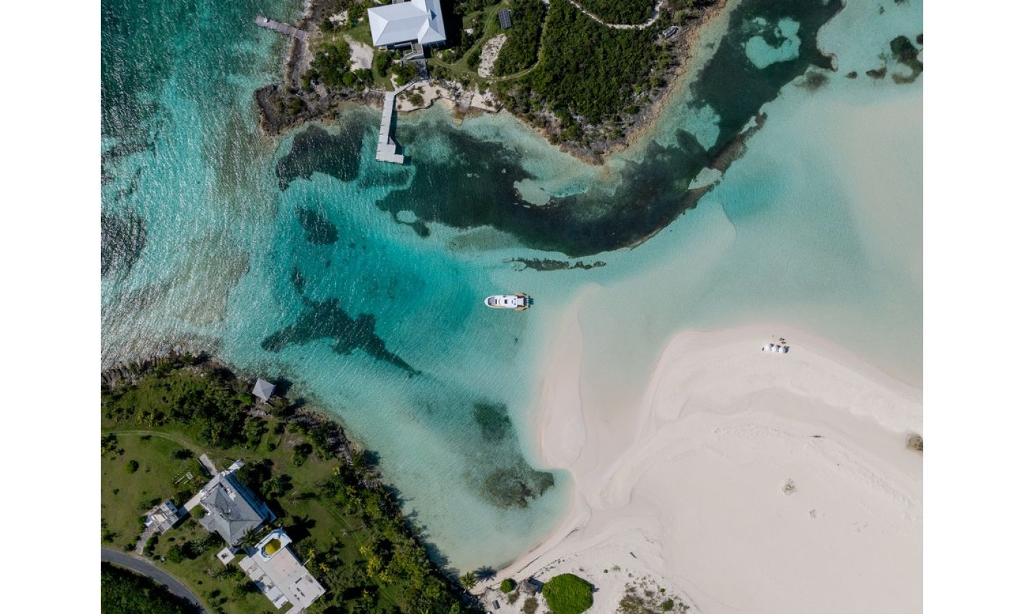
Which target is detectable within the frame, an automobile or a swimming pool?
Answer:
swimming pool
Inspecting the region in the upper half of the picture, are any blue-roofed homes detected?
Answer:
No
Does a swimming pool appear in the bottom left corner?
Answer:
Yes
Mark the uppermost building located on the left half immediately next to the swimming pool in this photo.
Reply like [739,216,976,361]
[199,466,277,545]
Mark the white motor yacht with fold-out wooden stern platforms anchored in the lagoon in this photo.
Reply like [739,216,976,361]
[484,292,530,311]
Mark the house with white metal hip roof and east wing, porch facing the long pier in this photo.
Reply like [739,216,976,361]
[368,0,447,62]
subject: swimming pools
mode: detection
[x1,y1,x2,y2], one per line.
[255,527,294,562]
